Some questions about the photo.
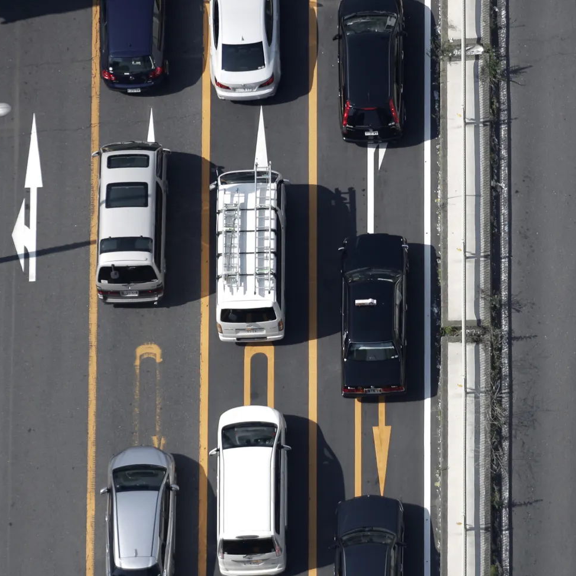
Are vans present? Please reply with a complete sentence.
Yes, this view includes a van.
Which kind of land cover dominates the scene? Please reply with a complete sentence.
The bulk of the photo consists of paved ground.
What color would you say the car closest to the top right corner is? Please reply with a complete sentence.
The car closest to the top right corner looks black in the image.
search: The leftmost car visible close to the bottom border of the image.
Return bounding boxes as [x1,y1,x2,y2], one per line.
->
[100,447,182,576]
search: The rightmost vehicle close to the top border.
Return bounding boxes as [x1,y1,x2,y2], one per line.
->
[330,0,410,143]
